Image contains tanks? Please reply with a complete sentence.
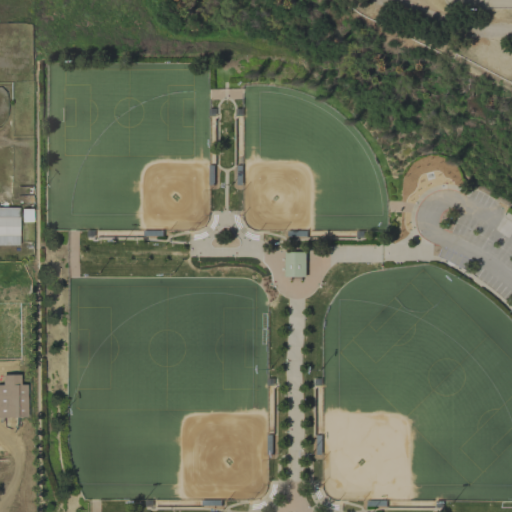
No, no tank can be seen from above.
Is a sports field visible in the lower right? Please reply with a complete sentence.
Yes, you'll find a sports field in the lower right.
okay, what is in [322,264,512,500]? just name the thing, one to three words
sports field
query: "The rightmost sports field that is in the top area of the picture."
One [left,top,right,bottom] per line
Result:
[245,84,388,230]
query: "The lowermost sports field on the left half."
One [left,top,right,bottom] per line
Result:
[68,278,270,500]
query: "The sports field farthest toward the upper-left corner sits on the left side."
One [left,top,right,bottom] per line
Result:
[48,62,212,230]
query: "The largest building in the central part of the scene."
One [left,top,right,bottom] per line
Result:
[286,252,306,281]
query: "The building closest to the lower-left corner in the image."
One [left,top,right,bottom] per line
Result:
[0,374,30,418]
